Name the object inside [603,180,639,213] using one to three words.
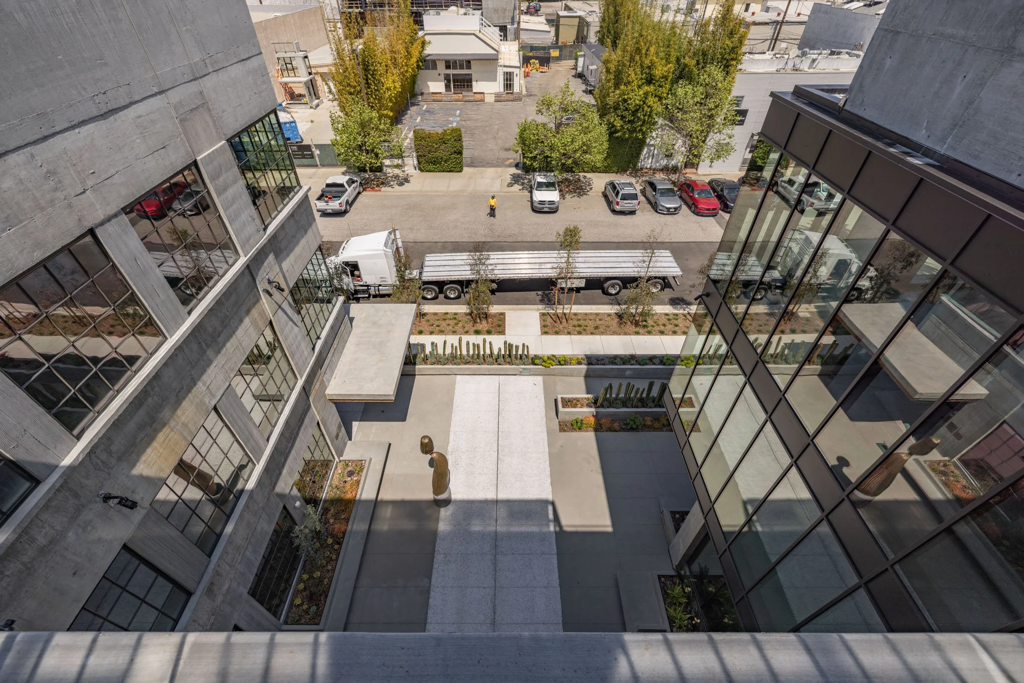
car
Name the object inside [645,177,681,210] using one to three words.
car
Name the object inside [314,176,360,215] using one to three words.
truck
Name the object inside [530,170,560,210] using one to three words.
truck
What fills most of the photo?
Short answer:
buildings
